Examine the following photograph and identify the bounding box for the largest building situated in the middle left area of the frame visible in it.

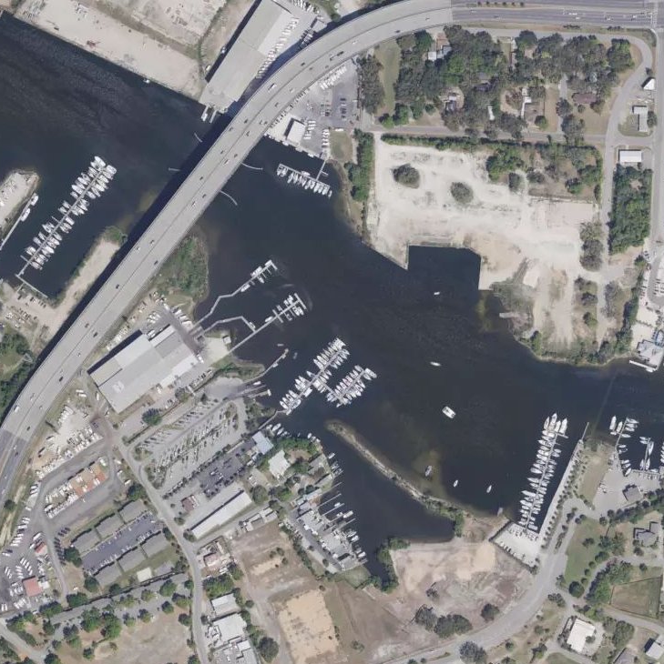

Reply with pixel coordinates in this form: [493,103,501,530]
[91,326,200,413]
